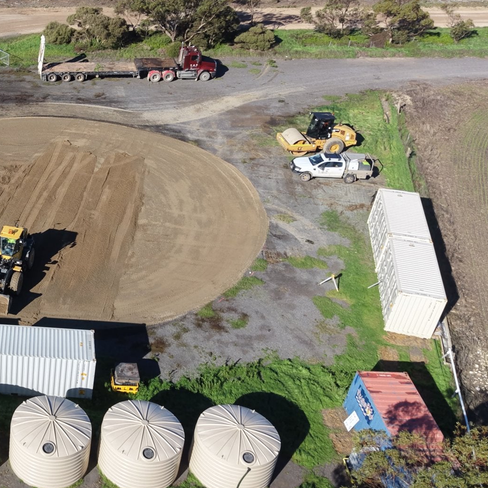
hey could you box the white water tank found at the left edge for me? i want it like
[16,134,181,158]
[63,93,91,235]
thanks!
[9,394,93,488]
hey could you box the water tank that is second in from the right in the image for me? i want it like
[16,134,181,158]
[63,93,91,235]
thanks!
[98,400,187,488]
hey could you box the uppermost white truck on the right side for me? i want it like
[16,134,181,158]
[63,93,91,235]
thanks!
[289,150,375,183]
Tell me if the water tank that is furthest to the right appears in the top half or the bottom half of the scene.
bottom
